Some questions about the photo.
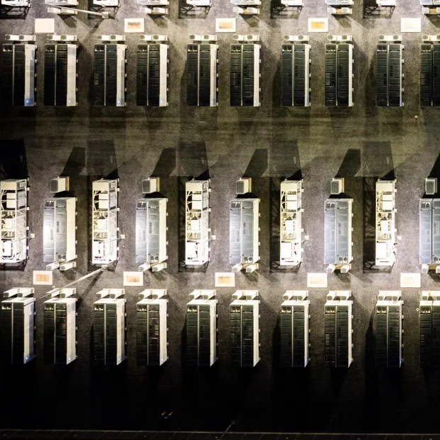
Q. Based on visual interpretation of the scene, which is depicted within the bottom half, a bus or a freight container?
freight container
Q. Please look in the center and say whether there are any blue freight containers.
No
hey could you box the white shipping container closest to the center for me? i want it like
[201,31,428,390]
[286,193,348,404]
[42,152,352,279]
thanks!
[230,198,261,263]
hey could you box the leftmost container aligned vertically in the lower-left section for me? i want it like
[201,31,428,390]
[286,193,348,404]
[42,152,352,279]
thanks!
[0,297,34,364]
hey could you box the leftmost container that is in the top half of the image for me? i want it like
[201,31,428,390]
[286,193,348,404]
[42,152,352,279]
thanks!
[1,45,37,105]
